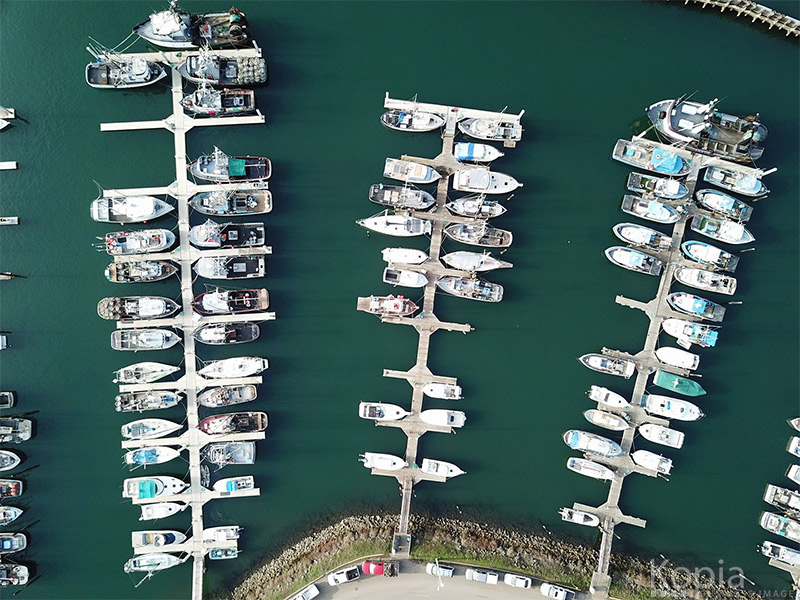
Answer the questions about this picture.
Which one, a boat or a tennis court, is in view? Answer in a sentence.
Of the two, only a boat appears.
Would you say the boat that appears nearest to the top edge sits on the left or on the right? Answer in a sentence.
The boat that appears nearest to the top edge sits on the left side.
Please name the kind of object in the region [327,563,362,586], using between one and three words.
truck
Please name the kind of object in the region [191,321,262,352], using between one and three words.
boat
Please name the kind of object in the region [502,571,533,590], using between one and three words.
car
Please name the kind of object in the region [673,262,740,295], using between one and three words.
boat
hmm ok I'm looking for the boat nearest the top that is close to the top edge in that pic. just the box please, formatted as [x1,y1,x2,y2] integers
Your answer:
[129,0,252,49]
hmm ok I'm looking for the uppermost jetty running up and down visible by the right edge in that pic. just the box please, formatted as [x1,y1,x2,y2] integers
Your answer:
[573,134,764,531]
